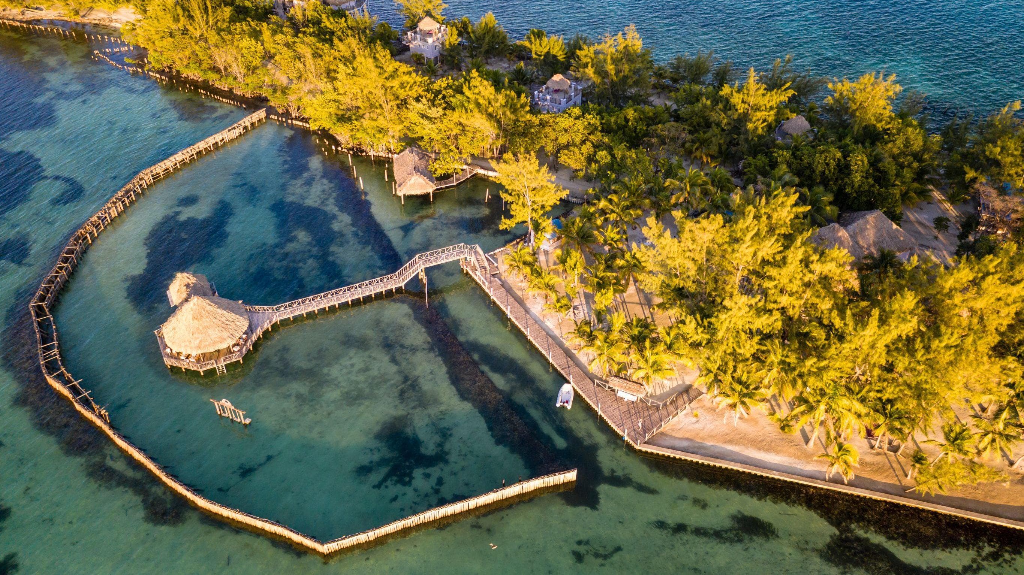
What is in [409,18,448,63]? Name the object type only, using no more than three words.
house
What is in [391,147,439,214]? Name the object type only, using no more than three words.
building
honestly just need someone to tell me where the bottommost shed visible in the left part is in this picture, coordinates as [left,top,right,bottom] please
[152,295,283,387]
